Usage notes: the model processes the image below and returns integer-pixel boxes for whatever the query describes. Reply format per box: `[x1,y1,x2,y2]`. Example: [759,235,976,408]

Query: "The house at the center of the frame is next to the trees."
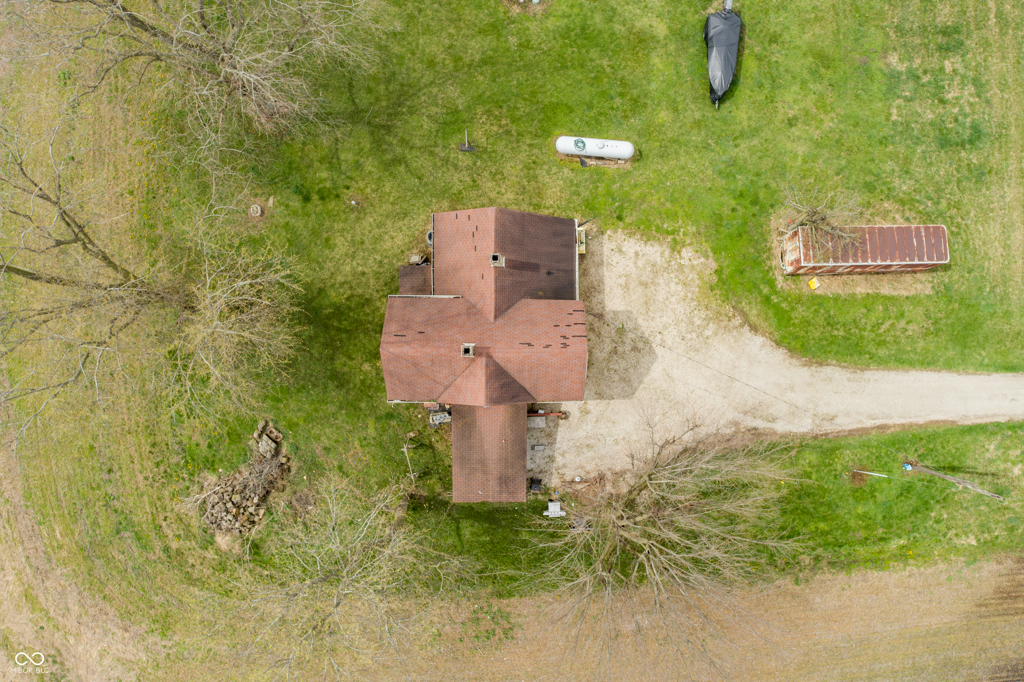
[380,207,588,503]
